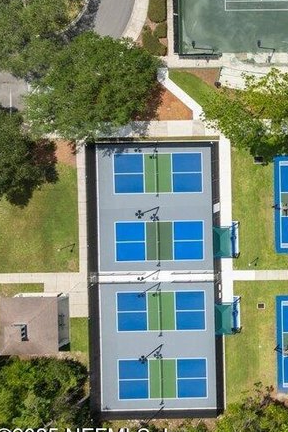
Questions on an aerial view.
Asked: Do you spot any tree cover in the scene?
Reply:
Yes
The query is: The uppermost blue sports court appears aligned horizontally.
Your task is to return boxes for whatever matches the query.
[113,152,202,194]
